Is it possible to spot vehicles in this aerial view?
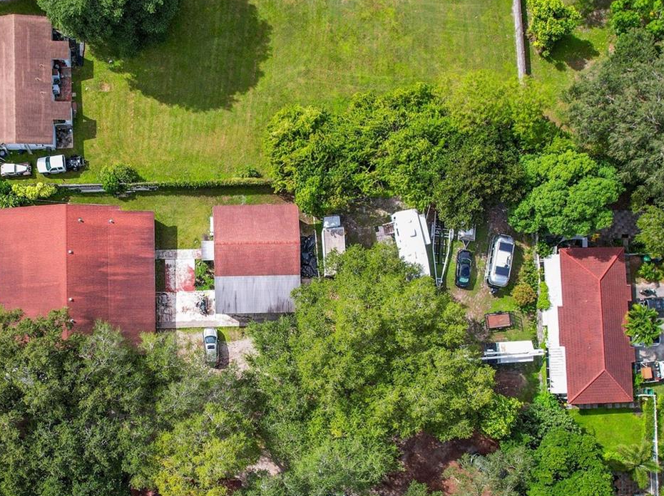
Yes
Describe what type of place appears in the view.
residential area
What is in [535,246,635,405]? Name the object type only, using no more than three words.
house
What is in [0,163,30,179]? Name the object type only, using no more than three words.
car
